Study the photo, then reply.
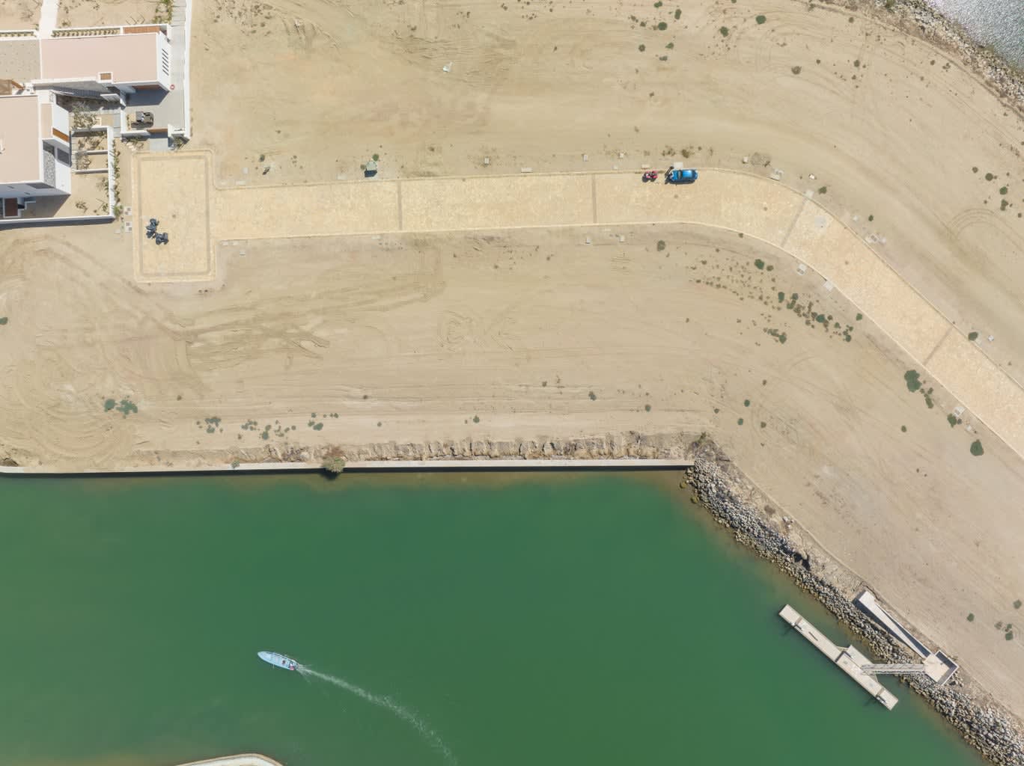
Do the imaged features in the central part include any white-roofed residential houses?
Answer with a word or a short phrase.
No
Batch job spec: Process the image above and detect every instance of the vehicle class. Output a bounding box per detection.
[145,217,161,235]
[153,232,170,243]
[645,170,659,180]
[671,169,698,183]
[133,111,155,124]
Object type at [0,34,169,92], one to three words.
house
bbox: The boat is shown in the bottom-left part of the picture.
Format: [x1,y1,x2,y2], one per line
[257,654,298,673]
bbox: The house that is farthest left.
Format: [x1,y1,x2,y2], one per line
[0,90,73,197]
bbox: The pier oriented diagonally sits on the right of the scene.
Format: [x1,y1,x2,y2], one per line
[778,604,898,710]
